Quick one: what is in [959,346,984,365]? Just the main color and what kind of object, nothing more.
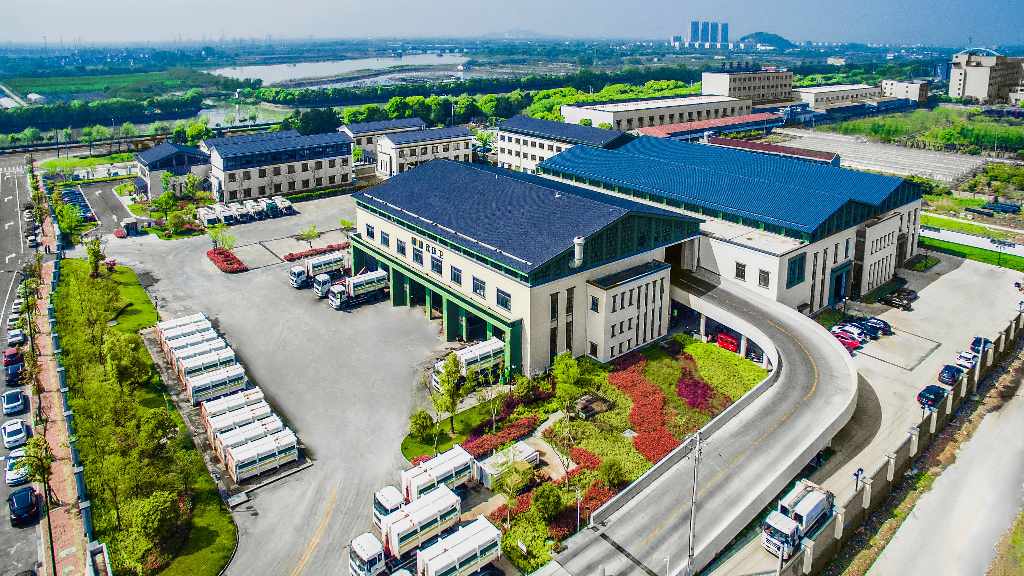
white car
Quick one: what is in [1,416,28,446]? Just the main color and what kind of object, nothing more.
white car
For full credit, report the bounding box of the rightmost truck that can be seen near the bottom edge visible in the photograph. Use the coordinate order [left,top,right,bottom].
[749,477,830,566]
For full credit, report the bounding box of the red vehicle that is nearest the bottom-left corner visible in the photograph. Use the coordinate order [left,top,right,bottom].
[1,343,22,364]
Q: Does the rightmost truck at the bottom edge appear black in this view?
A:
No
